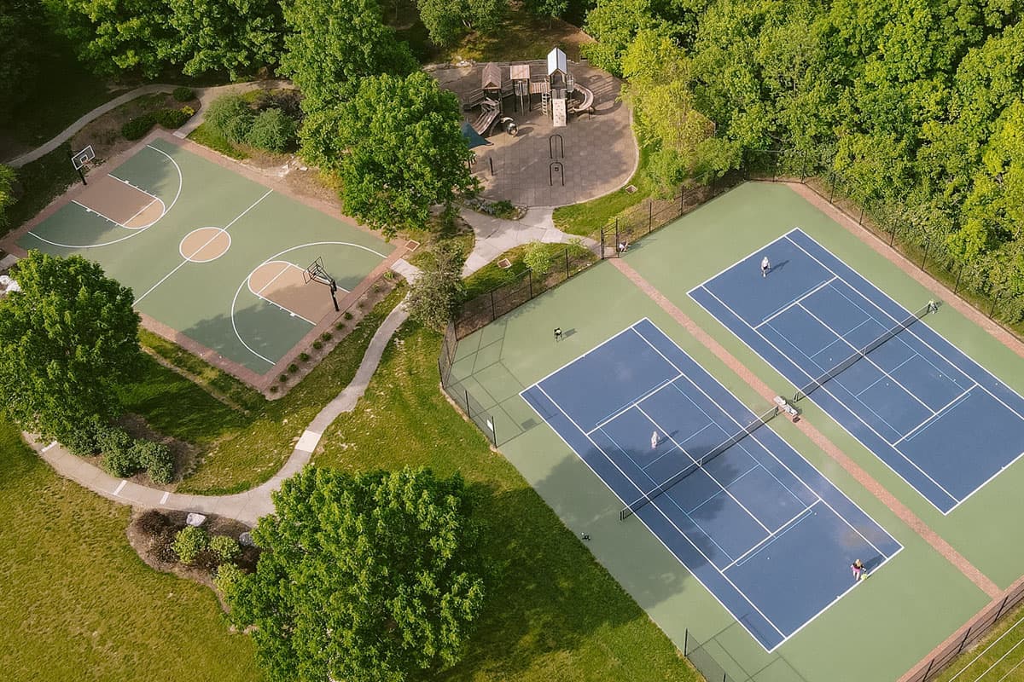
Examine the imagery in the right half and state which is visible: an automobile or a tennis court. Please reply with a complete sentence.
What appears in the right half is a tennis court.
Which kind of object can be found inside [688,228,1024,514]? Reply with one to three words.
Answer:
tennis court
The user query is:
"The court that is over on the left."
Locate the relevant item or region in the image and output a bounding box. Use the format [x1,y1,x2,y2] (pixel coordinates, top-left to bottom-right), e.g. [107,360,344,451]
[0,124,410,392]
